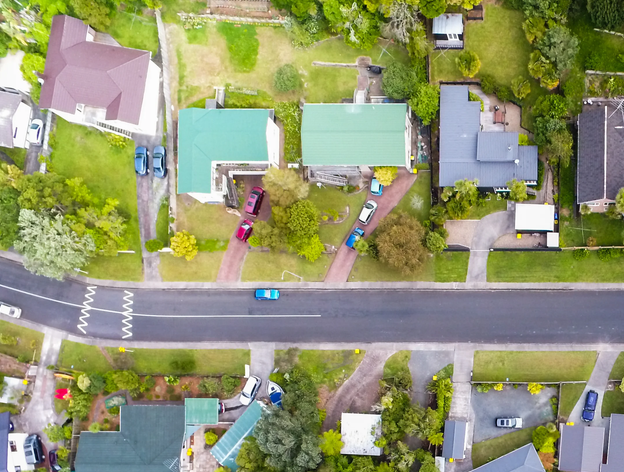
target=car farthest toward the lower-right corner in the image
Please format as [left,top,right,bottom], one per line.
[583,392,597,420]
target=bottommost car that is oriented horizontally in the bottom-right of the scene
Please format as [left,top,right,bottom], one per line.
[495,417,523,429]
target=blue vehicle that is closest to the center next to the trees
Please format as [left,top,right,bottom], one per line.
[345,225,365,250]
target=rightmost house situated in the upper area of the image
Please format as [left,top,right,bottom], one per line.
[578,96,624,205]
